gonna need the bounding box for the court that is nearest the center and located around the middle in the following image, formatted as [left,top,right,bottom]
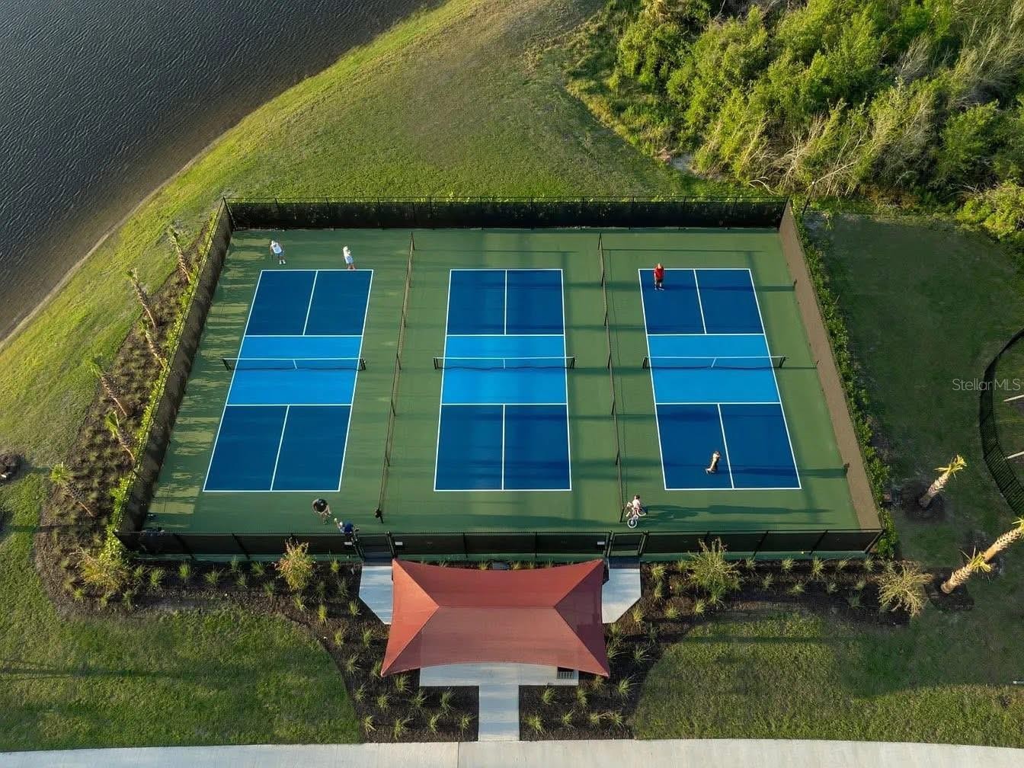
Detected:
[435,269,571,490]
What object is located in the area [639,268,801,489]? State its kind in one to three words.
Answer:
sports court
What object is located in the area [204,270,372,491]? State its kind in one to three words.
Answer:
sports court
